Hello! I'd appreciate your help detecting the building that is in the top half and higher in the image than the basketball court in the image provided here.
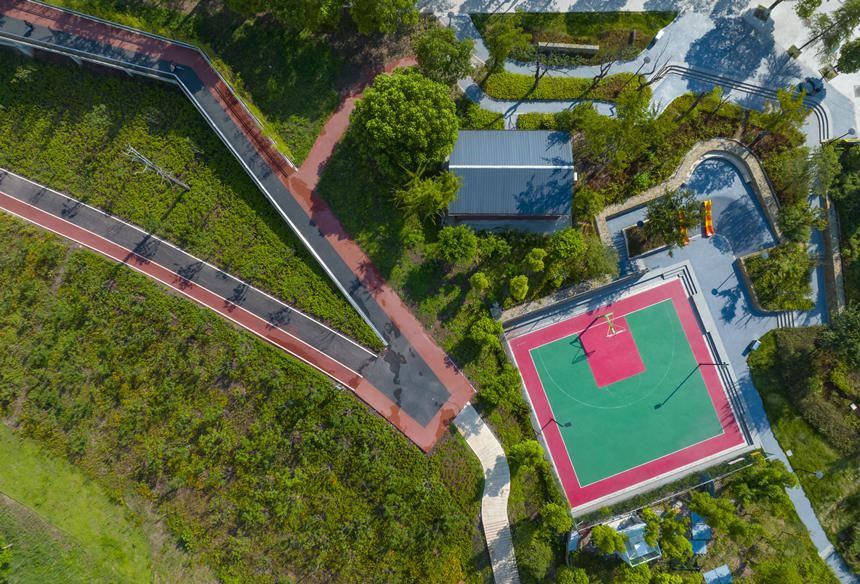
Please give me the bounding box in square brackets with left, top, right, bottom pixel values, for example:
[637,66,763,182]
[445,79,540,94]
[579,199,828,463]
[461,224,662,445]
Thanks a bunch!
[448,129,576,219]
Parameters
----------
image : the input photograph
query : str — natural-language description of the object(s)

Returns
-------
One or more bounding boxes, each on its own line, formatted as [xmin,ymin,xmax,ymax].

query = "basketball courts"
[508,278,747,514]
